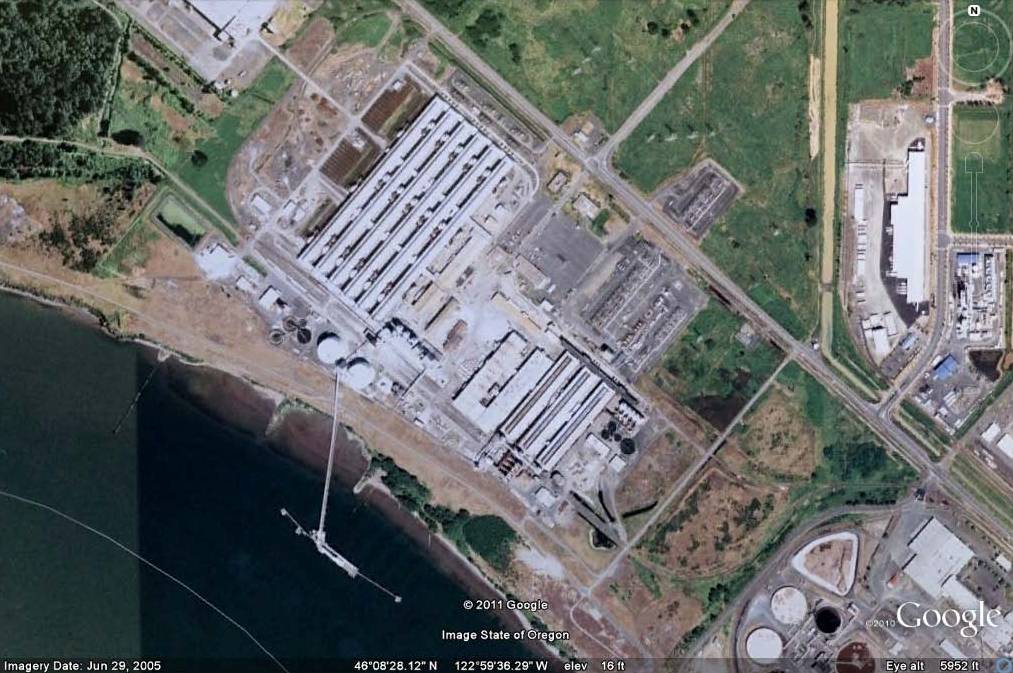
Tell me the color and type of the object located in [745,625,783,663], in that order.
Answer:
white storage tank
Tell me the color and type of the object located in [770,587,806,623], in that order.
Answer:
white storage tank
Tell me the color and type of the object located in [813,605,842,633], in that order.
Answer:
black storage tank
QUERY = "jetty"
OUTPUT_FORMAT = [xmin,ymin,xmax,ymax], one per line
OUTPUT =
[284,371,397,598]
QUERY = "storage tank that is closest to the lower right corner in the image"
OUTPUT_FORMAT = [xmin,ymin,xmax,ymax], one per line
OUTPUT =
[835,640,875,673]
